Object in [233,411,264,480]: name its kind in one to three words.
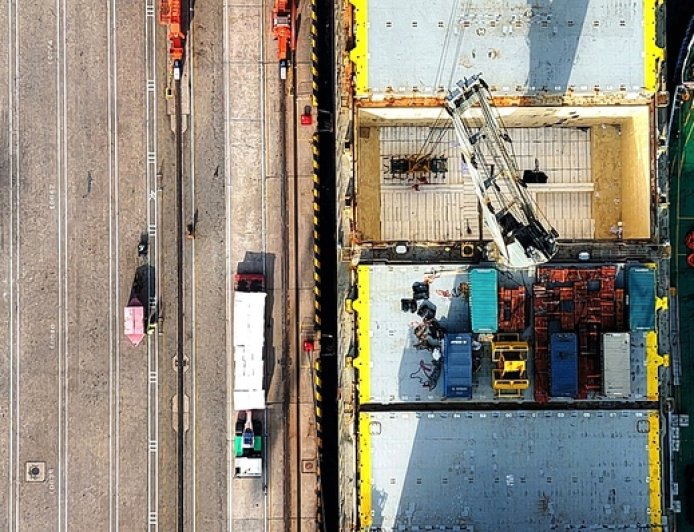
truck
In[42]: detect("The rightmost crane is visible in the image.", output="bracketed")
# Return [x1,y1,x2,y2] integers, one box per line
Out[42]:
[413,62,566,274]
